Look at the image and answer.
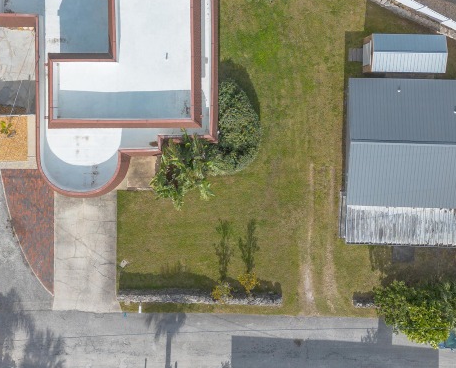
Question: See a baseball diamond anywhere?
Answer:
No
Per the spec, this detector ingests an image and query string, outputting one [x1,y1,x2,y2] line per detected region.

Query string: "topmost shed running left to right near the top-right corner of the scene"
[364,34,448,74]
